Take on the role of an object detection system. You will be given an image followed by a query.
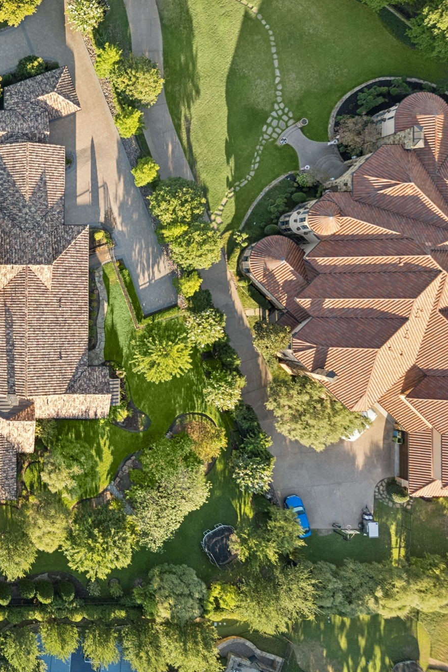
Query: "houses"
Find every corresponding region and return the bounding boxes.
[239,92,448,498]
[0,64,121,501]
